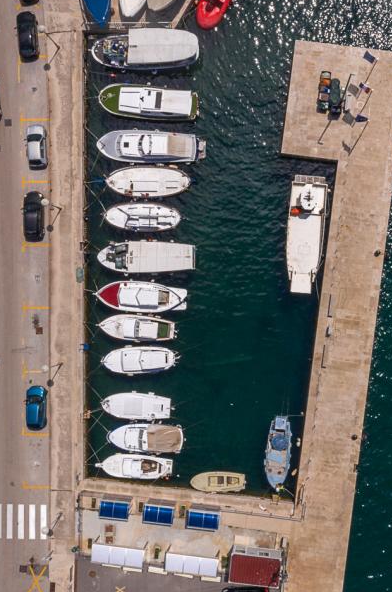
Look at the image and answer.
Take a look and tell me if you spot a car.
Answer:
Yes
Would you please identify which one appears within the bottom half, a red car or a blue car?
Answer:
blue car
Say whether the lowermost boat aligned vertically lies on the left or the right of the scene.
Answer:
right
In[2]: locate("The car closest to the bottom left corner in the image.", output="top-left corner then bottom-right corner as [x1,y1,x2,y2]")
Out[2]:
[23,386,48,430]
